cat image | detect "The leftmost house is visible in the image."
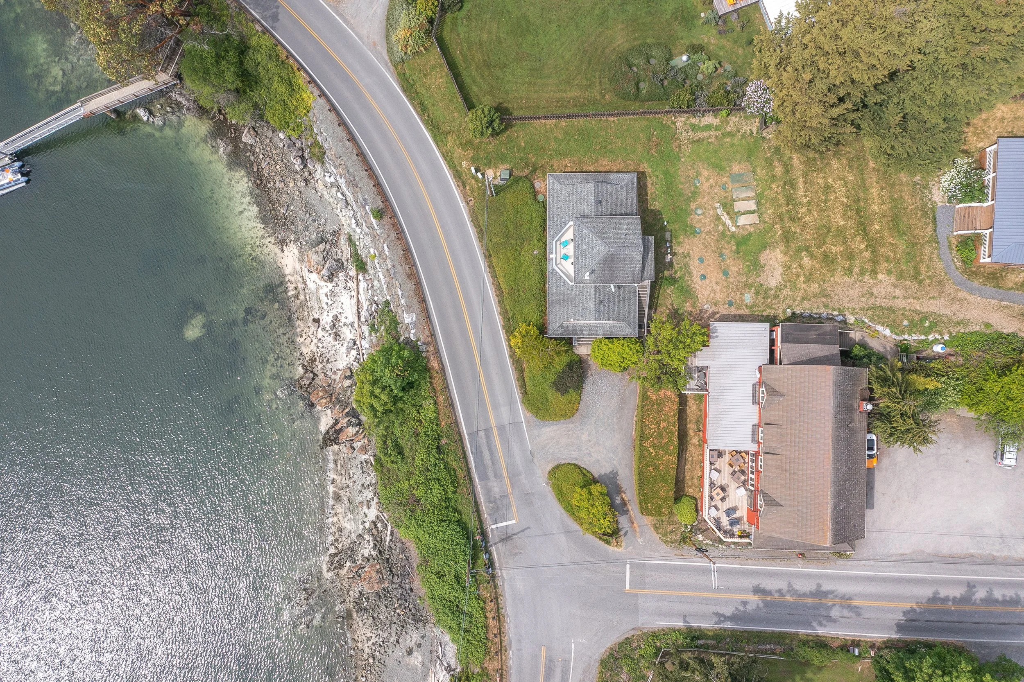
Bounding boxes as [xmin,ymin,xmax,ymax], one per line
[546,172,654,351]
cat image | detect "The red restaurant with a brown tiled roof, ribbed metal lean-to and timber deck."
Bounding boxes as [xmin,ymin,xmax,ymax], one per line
[683,322,875,554]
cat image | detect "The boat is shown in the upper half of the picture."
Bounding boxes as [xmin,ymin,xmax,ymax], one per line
[0,165,27,189]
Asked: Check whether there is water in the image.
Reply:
Yes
